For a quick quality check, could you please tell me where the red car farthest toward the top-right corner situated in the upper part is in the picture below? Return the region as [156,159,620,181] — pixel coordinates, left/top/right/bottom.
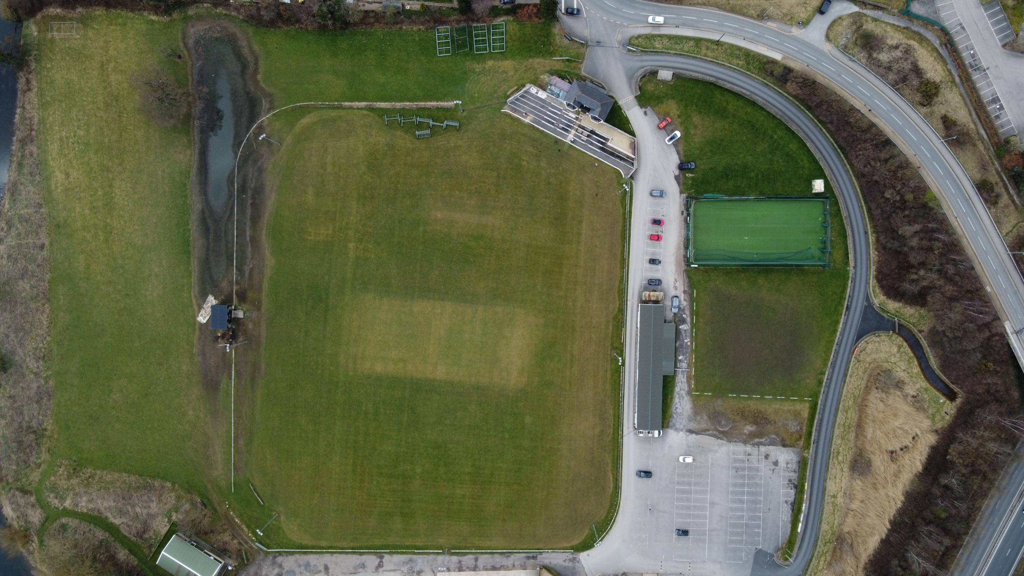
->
[656,117,671,131]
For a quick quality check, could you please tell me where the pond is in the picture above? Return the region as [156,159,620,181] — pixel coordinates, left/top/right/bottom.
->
[205,56,238,216]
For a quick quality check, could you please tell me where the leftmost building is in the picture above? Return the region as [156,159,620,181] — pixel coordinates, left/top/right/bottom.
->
[156,530,225,576]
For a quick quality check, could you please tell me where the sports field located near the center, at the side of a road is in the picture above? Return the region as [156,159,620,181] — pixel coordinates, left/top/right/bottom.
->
[252,110,622,548]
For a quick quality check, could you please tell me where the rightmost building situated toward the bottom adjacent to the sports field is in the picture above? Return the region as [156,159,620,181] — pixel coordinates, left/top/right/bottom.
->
[634,304,675,430]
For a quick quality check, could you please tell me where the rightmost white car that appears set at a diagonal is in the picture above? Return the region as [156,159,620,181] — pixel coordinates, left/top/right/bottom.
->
[665,131,681,145]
